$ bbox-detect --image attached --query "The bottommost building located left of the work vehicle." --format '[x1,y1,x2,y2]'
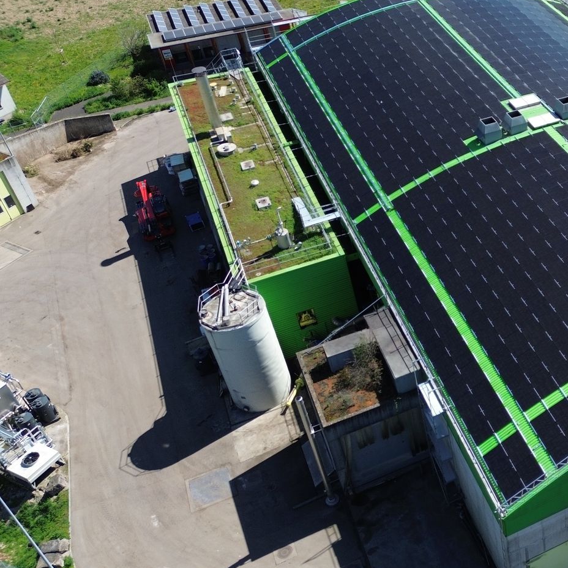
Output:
[0,162,33,225]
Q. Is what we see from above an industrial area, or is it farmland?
industrial area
